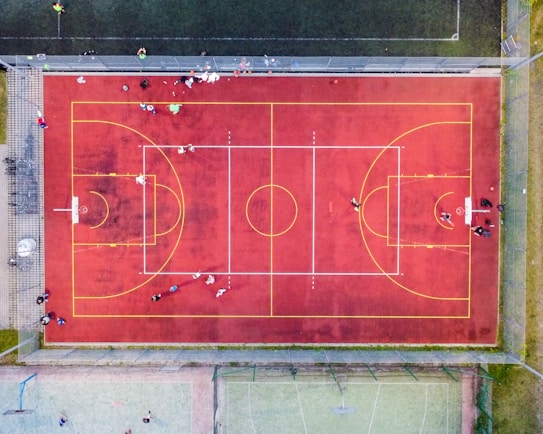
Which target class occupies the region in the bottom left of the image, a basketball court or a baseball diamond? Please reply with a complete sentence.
What appears in the bottom left of the image is a basketball court.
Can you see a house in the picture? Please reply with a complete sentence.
No, I can see no house in this picture.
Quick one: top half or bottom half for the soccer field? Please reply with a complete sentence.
The soccer field is in the top half of the image.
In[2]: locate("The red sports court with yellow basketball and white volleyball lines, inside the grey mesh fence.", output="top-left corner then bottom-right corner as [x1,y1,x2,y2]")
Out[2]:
[44,75,500,344]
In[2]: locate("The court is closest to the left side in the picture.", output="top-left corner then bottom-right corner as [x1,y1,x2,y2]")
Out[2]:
[0,366,213,434]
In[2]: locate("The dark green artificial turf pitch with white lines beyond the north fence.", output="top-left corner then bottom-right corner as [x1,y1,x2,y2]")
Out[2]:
[0,0,500,68]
